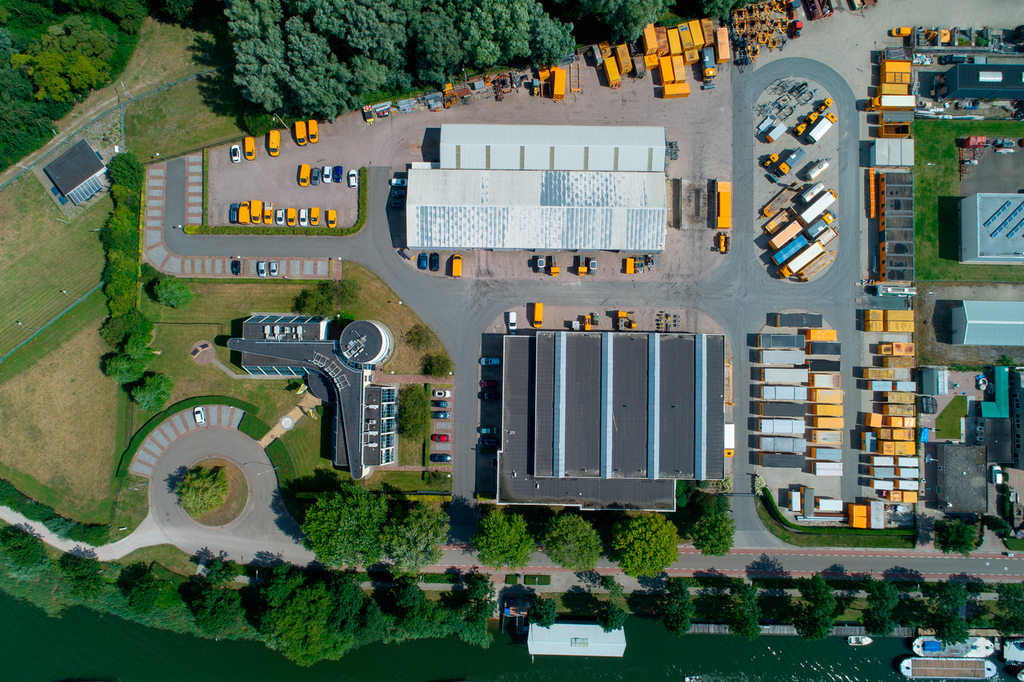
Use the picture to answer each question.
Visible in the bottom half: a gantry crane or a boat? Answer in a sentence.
Looking in the bottom half, you will find a boat.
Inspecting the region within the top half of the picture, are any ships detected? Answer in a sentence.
No, I can find no ship within the top half of the picture.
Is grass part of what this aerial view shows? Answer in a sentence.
Yes, some grass is visible.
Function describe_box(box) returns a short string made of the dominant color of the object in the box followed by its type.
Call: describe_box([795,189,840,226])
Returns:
white trailer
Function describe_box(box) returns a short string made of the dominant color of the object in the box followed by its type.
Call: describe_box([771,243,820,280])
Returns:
white truck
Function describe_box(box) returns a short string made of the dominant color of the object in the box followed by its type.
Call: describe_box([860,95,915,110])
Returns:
white vehicle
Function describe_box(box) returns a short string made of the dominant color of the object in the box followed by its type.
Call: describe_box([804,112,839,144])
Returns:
white truck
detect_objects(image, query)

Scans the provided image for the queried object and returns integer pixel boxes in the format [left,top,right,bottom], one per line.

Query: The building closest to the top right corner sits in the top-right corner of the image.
[941,61,1024,99]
